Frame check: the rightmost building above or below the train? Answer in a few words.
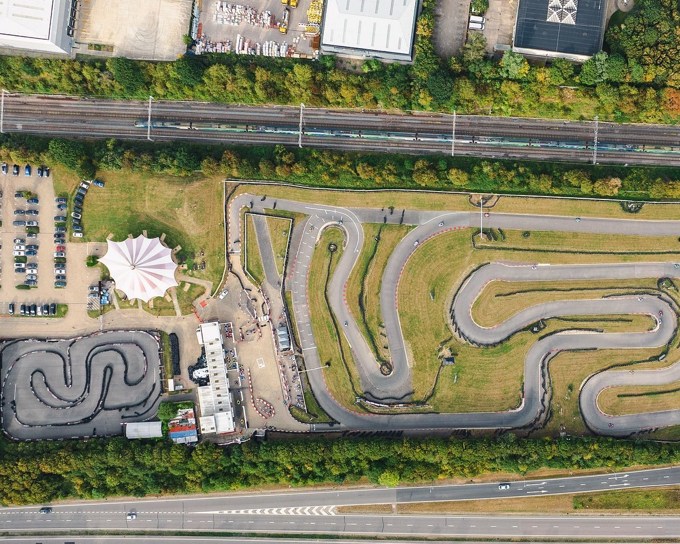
above it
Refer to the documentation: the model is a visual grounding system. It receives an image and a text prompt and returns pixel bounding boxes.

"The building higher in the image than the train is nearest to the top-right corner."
[513,0,606,59]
